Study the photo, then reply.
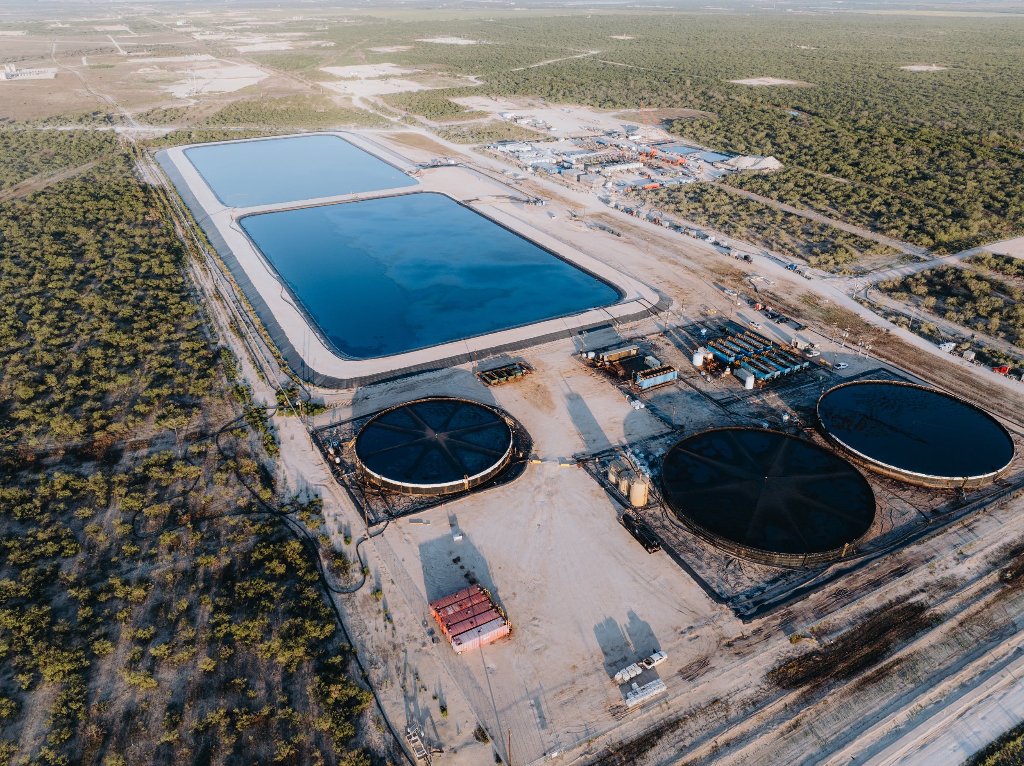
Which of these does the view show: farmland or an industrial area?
industrial area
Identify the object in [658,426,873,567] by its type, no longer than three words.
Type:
water tank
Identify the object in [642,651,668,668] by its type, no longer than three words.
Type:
vehicle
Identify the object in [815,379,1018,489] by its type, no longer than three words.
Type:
water tank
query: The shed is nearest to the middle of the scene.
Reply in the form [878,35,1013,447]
[599,342,642,361]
